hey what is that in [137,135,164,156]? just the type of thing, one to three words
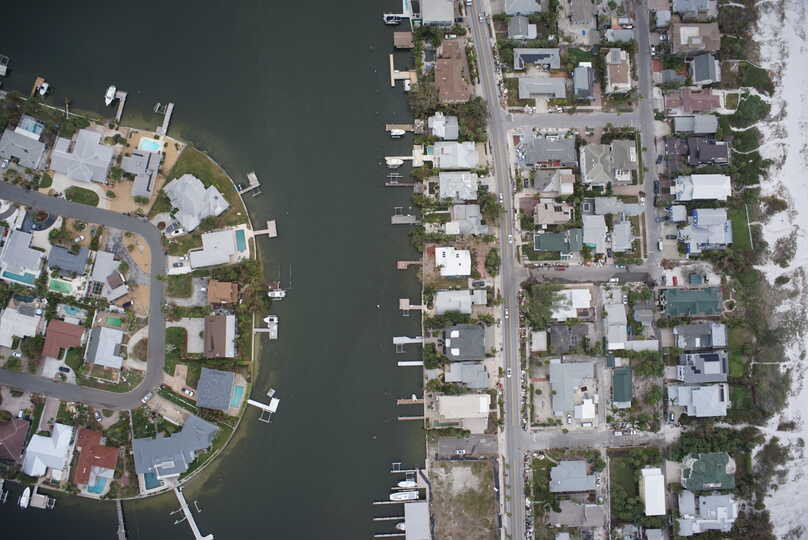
swimming pool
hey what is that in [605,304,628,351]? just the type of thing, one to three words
house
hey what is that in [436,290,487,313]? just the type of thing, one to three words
house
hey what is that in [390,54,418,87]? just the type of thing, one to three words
pier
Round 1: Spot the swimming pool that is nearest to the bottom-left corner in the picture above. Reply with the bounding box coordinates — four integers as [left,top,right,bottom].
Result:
[80,477,112,497]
